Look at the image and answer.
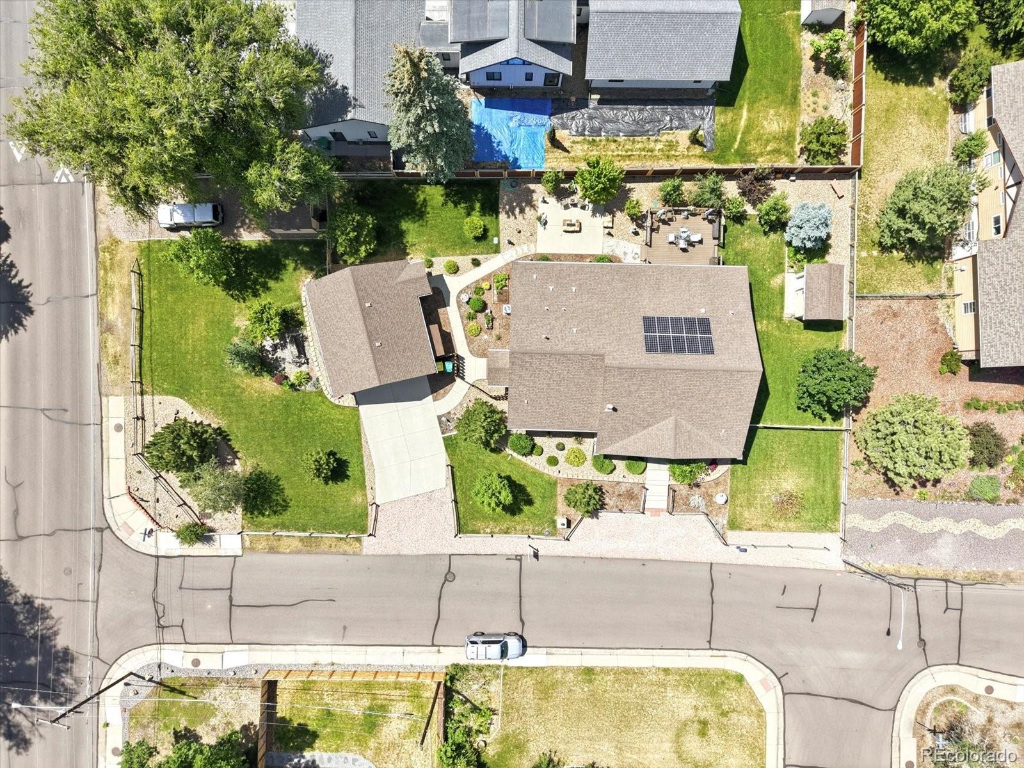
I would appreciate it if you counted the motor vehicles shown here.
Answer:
2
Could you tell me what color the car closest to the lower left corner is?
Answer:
white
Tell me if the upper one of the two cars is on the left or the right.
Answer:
left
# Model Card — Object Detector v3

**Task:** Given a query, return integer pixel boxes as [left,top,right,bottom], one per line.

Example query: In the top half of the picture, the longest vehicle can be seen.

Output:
[162,202,228,231]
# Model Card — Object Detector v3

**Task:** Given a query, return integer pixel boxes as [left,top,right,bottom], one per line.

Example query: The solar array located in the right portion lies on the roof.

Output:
[643,315,714,353]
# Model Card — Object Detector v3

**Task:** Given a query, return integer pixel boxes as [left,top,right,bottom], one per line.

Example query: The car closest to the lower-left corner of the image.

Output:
[464,632,524,664]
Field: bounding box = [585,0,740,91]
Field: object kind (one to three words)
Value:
barn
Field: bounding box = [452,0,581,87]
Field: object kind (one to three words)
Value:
house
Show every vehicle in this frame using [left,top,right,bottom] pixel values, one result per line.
[464,632,524,664]
[162,202,228,231]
